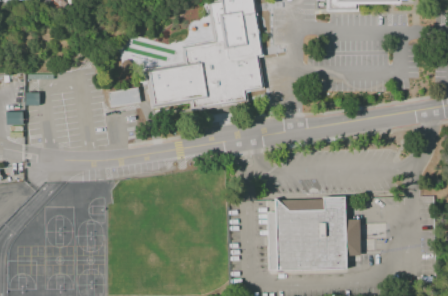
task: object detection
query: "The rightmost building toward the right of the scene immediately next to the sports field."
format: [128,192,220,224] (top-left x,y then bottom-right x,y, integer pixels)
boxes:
[270,196,348,272]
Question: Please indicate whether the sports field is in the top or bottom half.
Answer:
bottom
